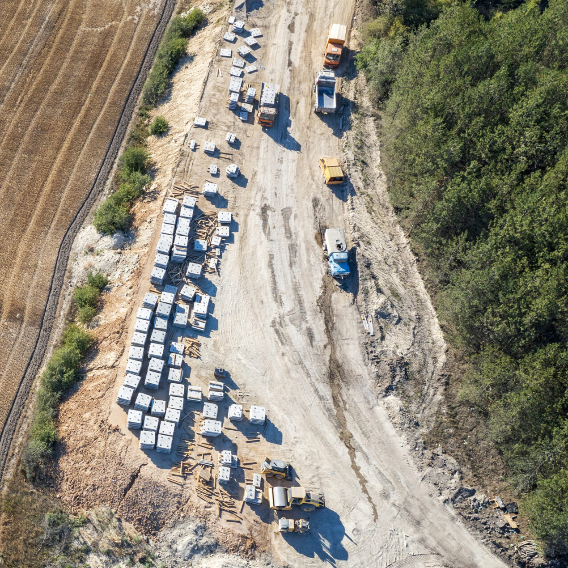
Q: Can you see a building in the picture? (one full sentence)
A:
No, the frame has no building in it.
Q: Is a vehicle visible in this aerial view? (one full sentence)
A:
Yes, there's a vehicle here.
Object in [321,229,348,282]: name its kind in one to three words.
truck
